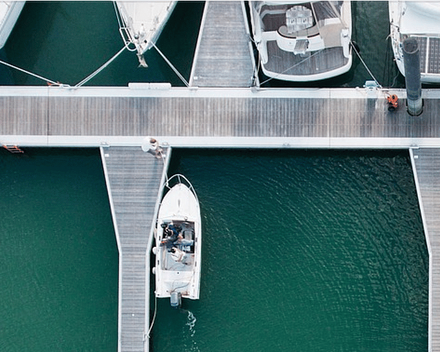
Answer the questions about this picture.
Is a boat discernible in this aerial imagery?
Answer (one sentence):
Yes, the picture does show a boat.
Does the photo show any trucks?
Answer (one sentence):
No, there isn't any truck down there.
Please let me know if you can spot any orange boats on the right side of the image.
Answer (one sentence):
No, I see no orange boat on the right side of the image.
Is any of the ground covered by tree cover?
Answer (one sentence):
No, the picture contains no tree cover.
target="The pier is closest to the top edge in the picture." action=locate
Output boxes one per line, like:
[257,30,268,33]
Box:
[188,0,258,88]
